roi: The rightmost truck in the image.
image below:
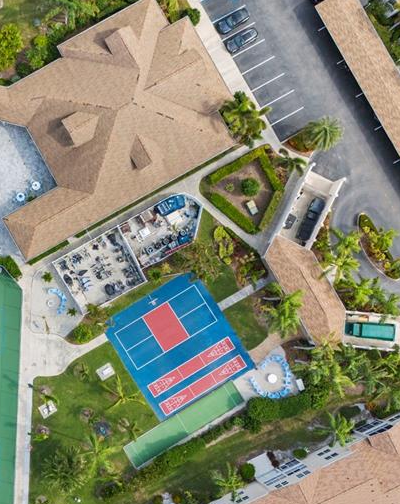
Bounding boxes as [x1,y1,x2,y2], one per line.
[348,320,395,341]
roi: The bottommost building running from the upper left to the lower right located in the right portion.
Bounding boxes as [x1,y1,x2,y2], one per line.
[263,234,349,347]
